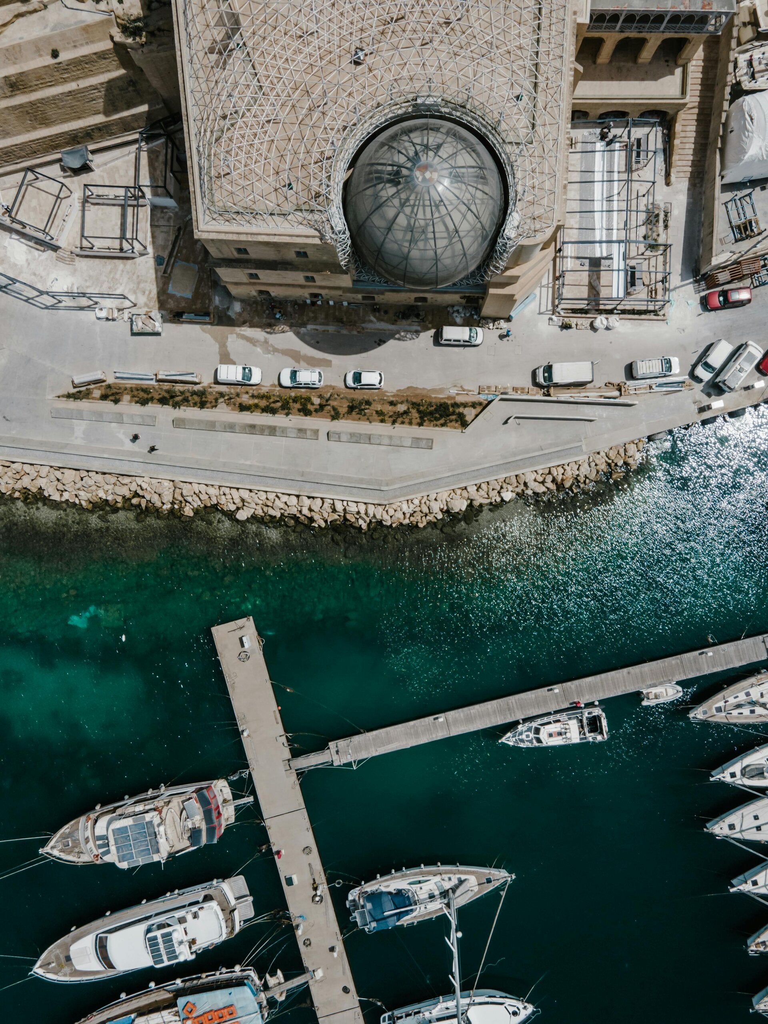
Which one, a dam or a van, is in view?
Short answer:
van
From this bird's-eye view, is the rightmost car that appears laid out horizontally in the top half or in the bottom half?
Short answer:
top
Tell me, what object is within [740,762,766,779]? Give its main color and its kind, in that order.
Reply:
gray boat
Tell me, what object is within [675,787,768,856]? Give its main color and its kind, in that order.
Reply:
white boat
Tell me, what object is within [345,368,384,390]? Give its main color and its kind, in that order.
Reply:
white car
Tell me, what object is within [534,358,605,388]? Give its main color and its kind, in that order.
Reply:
white van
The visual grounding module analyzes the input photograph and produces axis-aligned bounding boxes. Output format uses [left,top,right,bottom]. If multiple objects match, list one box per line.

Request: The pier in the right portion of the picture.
[329,633,768,765]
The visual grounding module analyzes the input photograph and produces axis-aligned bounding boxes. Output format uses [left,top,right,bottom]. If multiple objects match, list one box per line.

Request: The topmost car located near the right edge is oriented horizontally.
[701,287,754,313]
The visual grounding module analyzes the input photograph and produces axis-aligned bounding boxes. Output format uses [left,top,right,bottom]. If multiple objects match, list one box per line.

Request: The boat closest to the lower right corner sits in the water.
[743,983,768,1017]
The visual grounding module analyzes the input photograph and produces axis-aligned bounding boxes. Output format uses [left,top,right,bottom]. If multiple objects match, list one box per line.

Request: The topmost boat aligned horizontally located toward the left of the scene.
[5,771,264,879]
